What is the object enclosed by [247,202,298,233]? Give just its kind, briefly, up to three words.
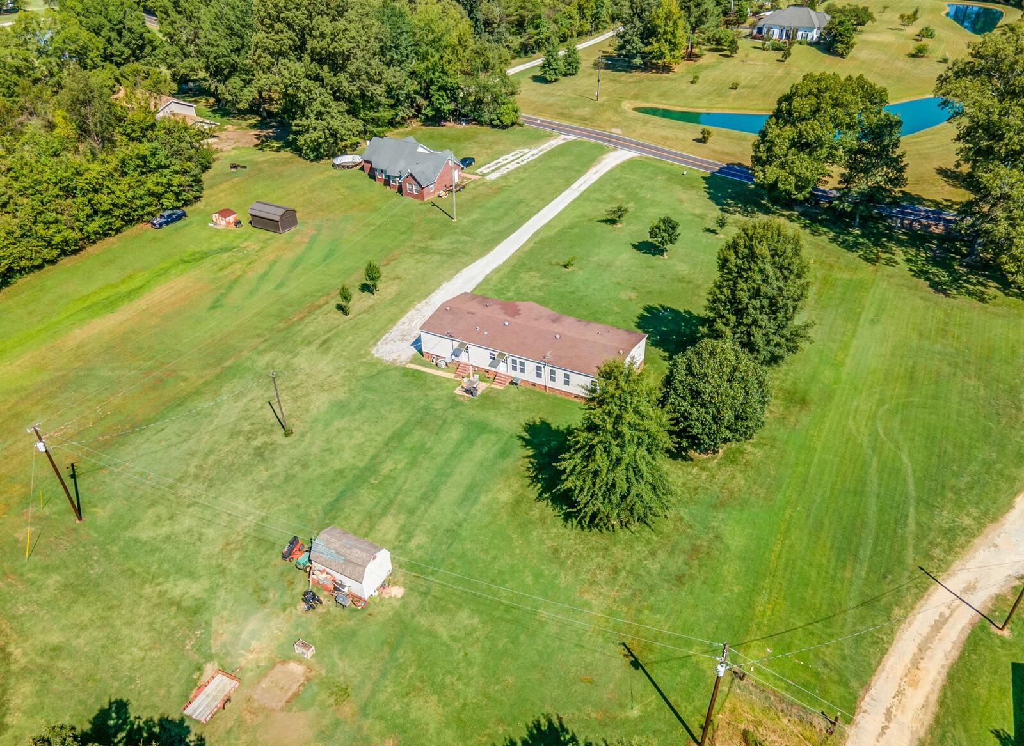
shed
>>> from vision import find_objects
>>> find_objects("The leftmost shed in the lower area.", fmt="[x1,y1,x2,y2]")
[314,526,392,598]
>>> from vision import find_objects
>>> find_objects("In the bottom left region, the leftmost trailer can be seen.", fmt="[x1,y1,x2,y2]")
[184,666,243,725]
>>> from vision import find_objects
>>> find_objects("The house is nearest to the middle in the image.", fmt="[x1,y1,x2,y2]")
[418,291,651,405]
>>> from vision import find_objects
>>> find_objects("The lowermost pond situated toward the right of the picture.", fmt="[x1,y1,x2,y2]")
[634,99,960,137]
